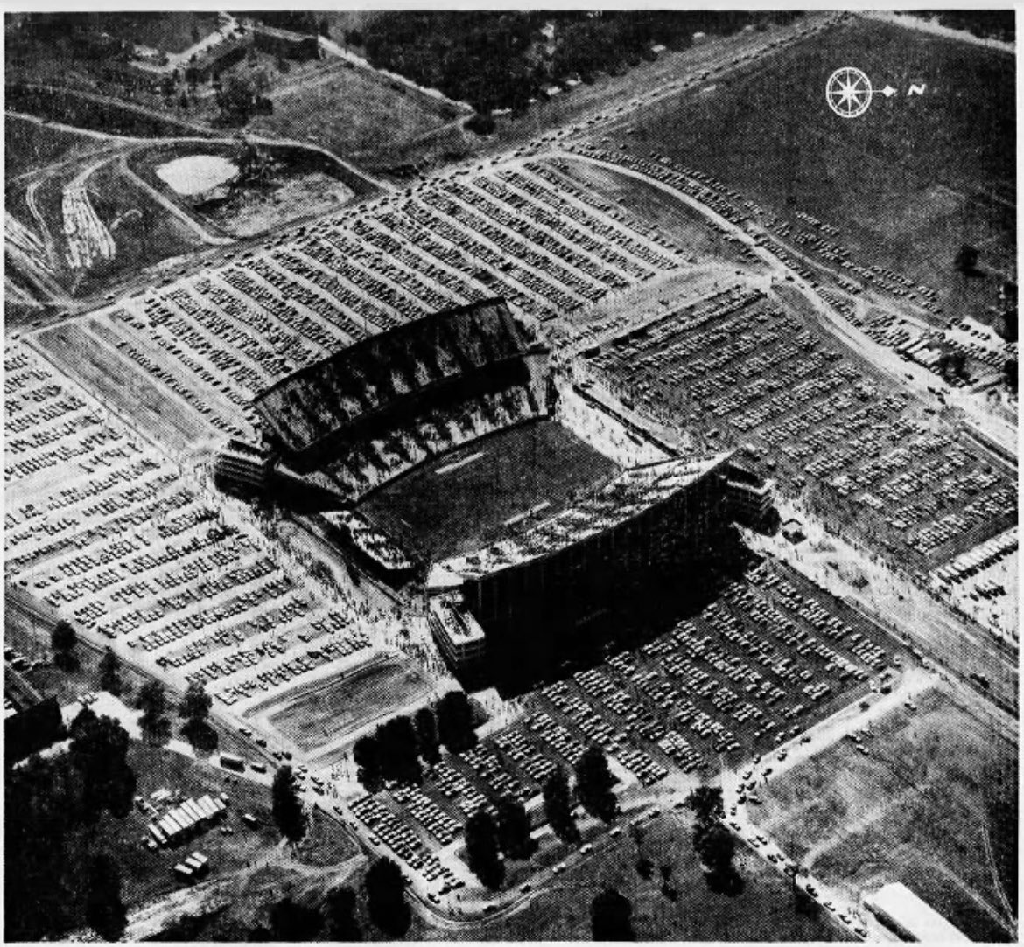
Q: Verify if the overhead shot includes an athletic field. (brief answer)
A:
Yes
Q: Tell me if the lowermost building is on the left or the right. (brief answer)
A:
right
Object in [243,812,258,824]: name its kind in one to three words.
vehicle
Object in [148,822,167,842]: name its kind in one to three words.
vehicle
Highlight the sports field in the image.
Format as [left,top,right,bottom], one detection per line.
[346,414,622,572]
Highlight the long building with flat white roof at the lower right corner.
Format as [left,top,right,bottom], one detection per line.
[866,880,981,947]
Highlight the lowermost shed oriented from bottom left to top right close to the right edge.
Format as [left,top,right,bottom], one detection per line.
[964,366,1000,405]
